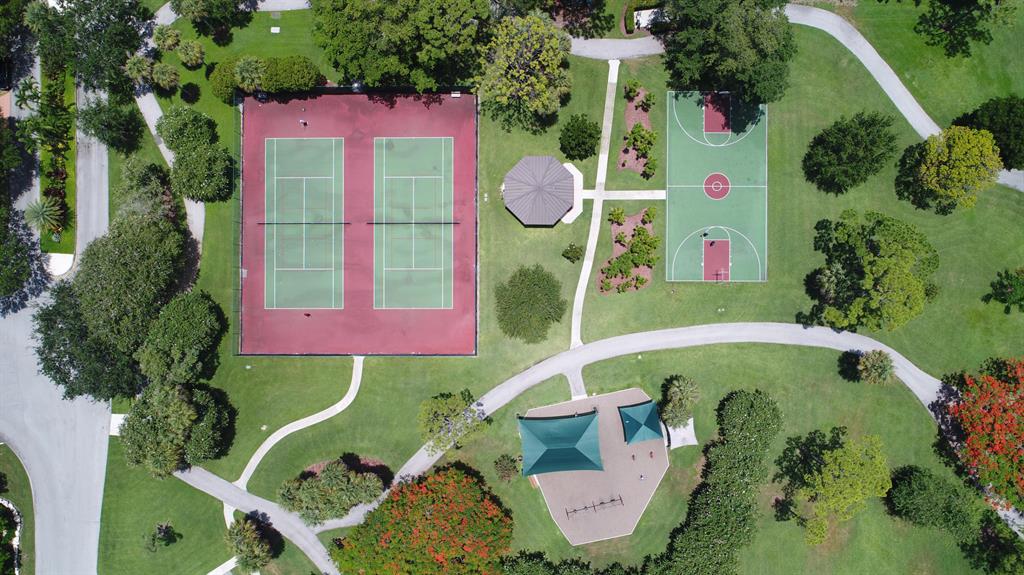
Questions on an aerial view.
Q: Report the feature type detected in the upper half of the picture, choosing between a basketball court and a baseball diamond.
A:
basketball court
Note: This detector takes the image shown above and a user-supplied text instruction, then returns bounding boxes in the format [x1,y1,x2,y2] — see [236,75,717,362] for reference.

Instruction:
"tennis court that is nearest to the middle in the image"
[374,138,453,309]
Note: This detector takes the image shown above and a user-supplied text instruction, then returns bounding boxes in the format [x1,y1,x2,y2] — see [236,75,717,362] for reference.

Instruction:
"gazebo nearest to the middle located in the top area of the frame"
[504,156,583,224]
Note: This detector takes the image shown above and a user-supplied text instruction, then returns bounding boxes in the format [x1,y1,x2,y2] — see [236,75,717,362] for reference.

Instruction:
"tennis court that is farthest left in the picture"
[265,138,343,309]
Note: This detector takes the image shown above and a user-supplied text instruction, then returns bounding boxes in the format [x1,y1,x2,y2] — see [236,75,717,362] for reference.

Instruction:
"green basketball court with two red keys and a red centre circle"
[667,91,767,282]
